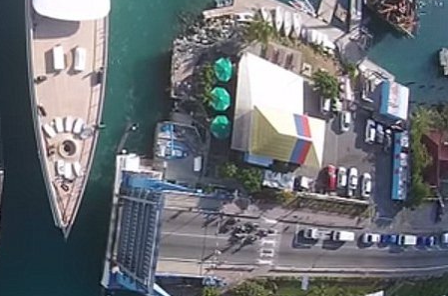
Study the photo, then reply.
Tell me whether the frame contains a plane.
No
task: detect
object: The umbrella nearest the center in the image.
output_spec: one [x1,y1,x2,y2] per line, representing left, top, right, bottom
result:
[210,117,231,137]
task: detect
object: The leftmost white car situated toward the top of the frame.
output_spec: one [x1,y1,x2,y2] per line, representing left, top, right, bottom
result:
[320,96,332,112]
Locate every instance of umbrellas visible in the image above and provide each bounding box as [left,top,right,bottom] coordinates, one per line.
[210,117,231,137]
[209,88,231,110]
[212,59,233,81]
